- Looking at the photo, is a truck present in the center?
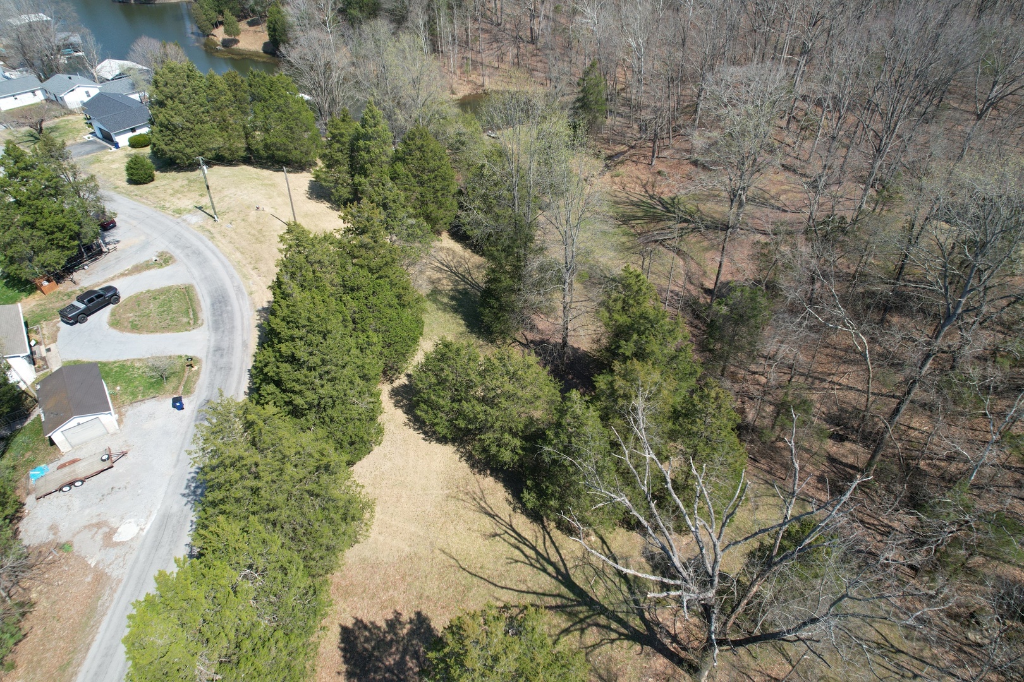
No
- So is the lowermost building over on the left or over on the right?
left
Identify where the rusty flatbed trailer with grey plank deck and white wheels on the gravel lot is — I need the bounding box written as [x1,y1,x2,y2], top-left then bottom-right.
[33,447,131,499]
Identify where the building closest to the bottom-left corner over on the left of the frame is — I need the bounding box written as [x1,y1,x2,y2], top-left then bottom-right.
[32,362,121,452]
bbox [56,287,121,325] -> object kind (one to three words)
truck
